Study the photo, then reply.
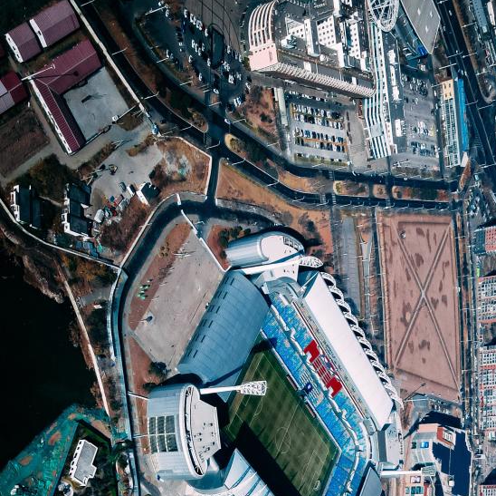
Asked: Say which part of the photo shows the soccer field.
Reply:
bottom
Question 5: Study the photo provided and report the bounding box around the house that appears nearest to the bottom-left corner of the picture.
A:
[62,439,99,487]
